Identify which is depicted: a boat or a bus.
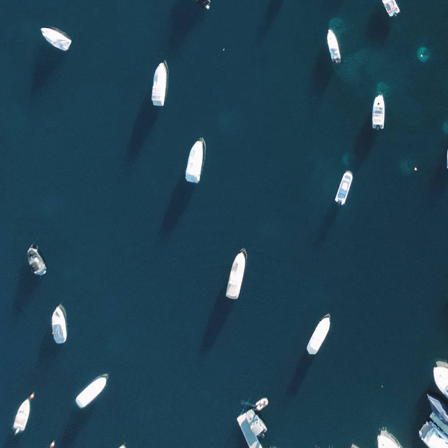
boat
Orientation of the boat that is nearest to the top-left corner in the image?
at an angle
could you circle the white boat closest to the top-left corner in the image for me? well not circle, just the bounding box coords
[40,27,76,54]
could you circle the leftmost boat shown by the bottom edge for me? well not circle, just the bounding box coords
[12,400,32,435]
